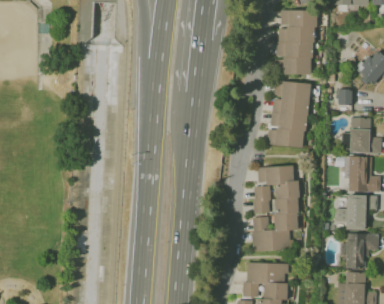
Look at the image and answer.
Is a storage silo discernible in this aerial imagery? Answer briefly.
No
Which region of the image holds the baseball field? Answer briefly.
top left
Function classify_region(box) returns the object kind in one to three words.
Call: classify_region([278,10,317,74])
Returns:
building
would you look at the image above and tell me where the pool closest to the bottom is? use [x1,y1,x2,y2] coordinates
[324,239,338,267]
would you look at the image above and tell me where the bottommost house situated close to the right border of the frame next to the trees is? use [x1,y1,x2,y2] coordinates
[337,272,378,304]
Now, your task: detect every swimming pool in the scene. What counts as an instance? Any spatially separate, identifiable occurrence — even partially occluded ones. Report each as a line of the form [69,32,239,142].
[324,239,338,267]
[331,118,348,136]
